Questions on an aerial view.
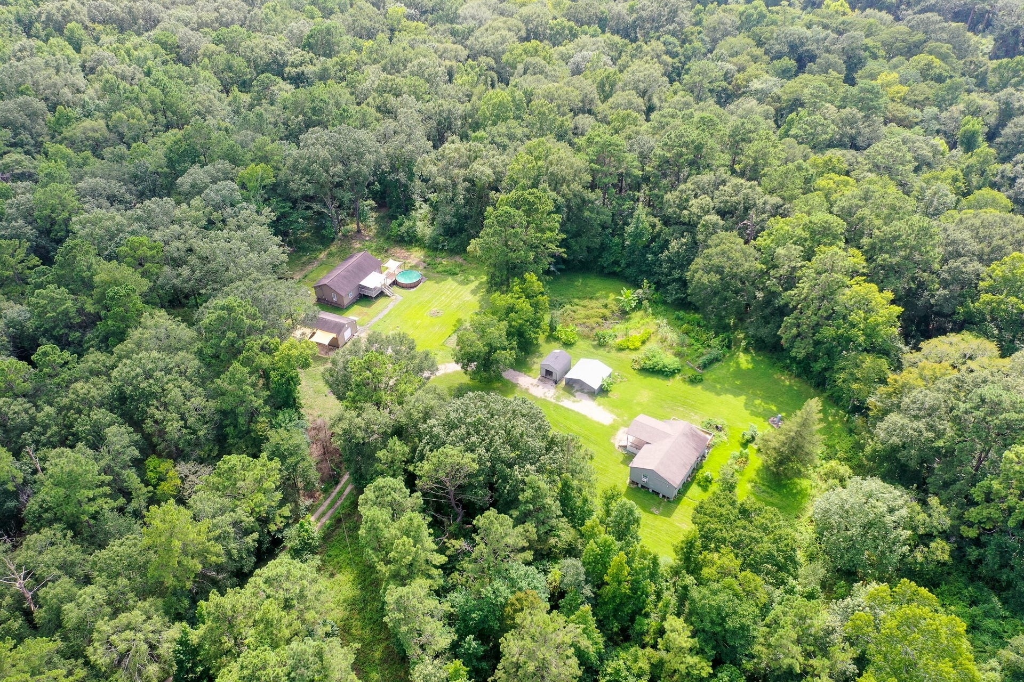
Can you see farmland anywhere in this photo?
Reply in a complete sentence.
No, the scene doesn't show any farmland.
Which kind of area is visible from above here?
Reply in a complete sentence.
This looks like a forest.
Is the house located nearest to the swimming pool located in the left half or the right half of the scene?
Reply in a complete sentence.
The house located nearest to the swimming pool sits on the left side.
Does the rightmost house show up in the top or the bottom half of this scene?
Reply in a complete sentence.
The rightmost house is in the bottom half of the image.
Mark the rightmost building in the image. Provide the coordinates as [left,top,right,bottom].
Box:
[617,414,714,499]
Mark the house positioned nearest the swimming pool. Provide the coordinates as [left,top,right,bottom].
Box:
[312,251,395,309]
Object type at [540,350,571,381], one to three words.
shed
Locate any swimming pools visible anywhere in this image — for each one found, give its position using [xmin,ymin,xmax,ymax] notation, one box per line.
[396,270,422,289]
